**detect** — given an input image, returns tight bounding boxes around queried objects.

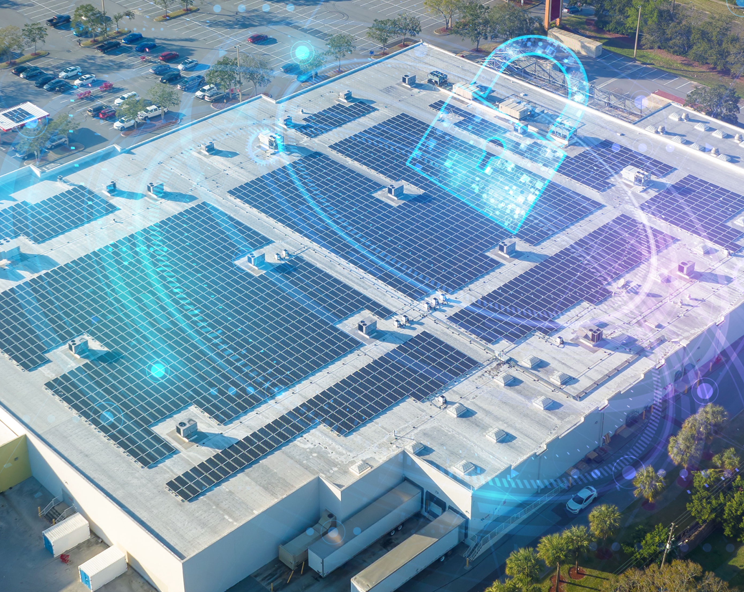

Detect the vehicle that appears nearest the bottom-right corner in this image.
[566,487,599,515]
